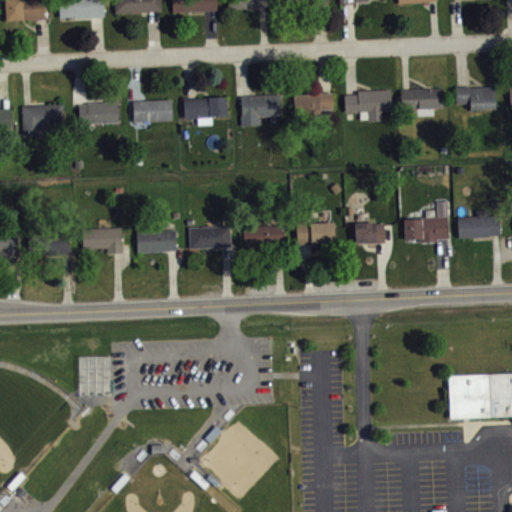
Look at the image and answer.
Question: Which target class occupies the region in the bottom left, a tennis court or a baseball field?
baseball field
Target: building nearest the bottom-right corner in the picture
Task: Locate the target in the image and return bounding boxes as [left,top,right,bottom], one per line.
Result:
[448,375,512,422]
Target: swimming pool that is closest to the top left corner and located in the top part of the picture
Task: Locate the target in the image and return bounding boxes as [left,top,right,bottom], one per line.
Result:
[206,135,223,152]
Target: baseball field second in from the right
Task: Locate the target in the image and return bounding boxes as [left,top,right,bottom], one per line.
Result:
[102,456,230,512]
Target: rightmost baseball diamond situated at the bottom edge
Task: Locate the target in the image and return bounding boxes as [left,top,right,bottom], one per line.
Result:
[200,404,290,512]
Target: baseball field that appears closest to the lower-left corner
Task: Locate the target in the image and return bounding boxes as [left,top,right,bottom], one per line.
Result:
[0,366,74,490]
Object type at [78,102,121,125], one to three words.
house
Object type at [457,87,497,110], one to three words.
house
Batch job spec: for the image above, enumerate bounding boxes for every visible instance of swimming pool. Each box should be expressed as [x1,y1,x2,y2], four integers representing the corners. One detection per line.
[456,206,467,217]
[206,135,223,152]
